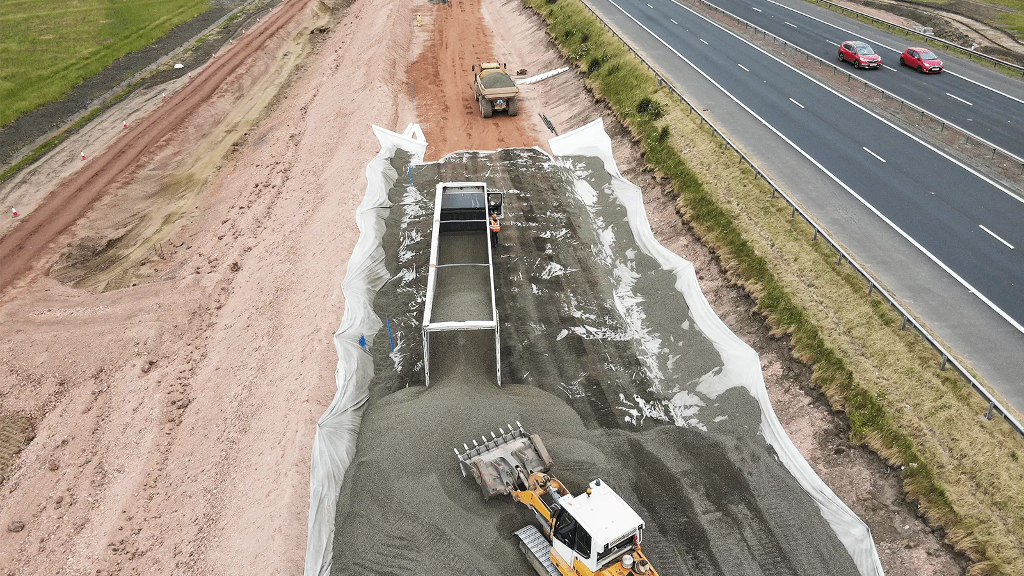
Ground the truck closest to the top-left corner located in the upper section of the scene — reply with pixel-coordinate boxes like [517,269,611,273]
[468,55,519,116]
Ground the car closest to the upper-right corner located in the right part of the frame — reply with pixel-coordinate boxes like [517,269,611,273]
[898,44,949,73]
